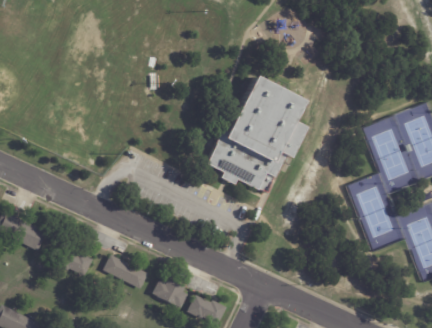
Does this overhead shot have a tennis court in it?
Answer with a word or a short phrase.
Yes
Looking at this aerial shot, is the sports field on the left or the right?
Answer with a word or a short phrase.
left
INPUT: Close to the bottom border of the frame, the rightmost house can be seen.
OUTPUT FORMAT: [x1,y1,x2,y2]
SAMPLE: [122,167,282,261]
[186,292,228,322]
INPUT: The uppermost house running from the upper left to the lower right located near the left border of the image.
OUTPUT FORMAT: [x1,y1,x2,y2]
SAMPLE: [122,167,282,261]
[0,211,42,252]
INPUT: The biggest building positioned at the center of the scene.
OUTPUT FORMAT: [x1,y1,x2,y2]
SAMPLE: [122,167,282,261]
[211,75,310,190]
